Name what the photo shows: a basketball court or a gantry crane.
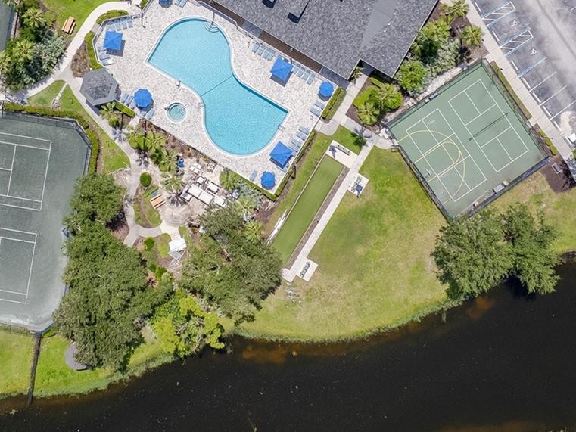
basketball court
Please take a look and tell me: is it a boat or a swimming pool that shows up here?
swimming pool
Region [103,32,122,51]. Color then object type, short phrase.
blue umbrella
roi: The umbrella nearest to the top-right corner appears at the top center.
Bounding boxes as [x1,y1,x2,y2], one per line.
[319,82,334,97]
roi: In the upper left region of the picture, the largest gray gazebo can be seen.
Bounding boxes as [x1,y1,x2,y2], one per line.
[82,67,119,107]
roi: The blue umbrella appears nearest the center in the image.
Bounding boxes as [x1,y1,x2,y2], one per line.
[260,173,276,188]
